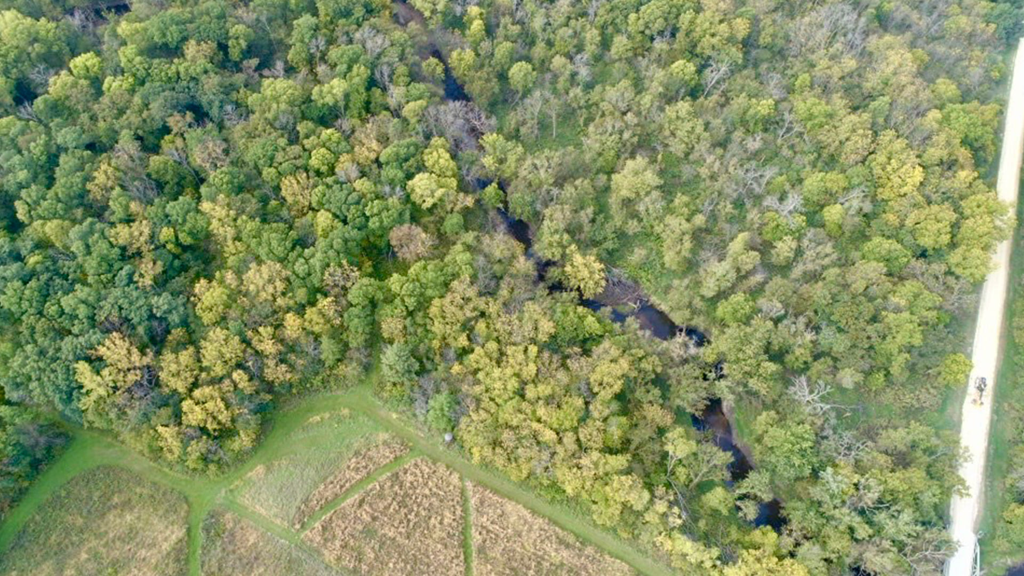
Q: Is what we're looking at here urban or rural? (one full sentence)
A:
The area is rural.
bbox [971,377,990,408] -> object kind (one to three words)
work vehicle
